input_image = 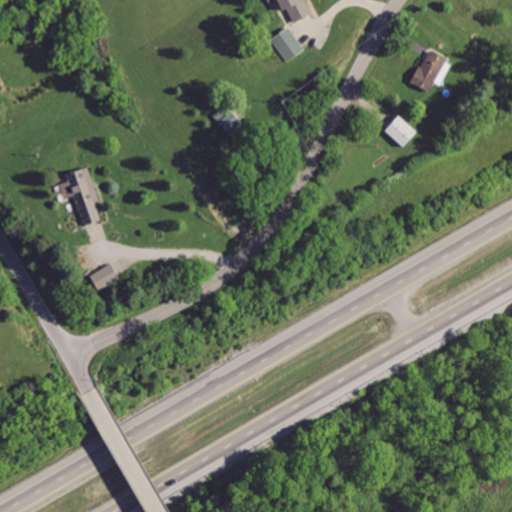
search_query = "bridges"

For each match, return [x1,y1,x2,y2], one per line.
[75,382,167,512]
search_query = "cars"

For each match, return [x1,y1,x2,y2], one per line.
[298,35,308,43]
[308,38,316,48]
[165,478,175,486]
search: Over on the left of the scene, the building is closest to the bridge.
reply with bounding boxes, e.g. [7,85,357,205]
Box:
[90,264,117,290]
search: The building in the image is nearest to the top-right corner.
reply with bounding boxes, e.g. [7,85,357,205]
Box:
[410,52,452,92]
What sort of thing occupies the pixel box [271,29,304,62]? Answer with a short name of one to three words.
barn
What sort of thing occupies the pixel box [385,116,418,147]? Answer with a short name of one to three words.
house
